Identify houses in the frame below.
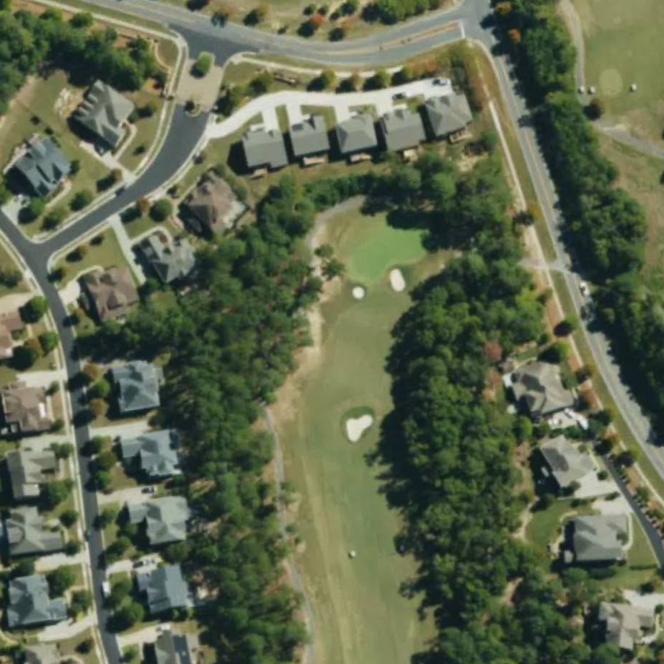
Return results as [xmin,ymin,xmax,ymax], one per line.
[566,512,630,566]
[138,231,194,283]
[383,108,425,156]
[11,131,71,194]
[153,629,197,664]
[0,310,24,360]
[74,83,134,147]
[425,92,475,140]
[290,114,329,161]
[0,507,67,556]
[337,112,378,158]
[538,433,600,489]
[108,362,167,411]
[127,496,191,543]
[242,127,286,175]
[514,358,578,418]
[184,174,242,232]
[21,645,82,664]
[3,449,59,502]
[5,388,52,433]
[82,266,139,319]
[134,563,196,613]
[119,430,187,476]
[2,574,73,626]
[593,601,658,654]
